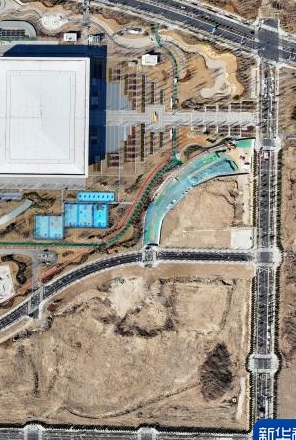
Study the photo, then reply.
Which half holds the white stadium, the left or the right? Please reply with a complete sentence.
It is on the left.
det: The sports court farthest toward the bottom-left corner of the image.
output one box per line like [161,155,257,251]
[33,214,65,240]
